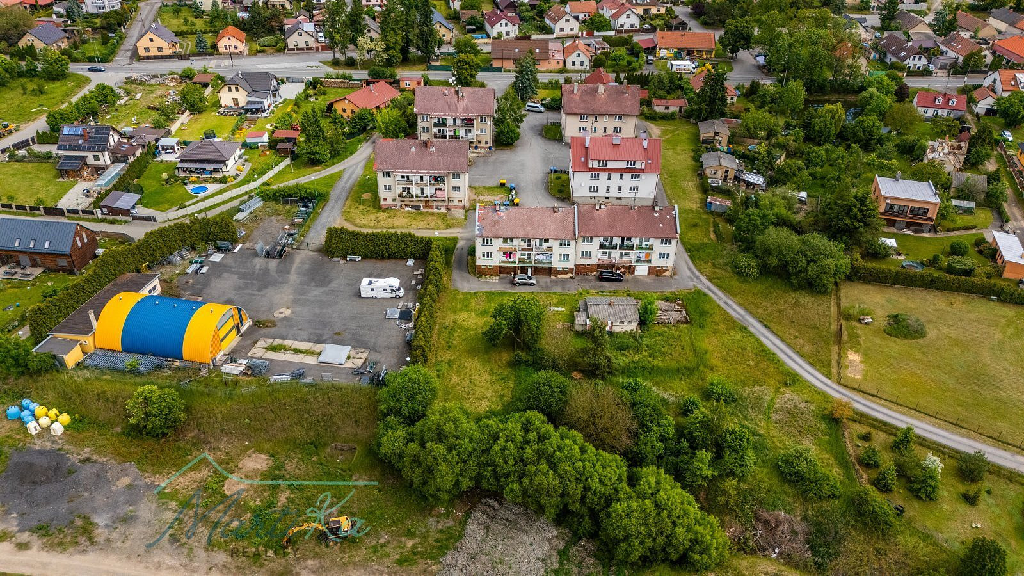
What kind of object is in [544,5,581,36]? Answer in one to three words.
house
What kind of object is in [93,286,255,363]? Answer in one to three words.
hangar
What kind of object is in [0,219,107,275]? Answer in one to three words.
barn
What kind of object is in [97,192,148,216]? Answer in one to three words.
building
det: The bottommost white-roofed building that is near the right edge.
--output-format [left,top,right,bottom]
[971,229,1024,280]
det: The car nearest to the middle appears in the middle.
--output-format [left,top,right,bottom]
[511,274,537,287]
